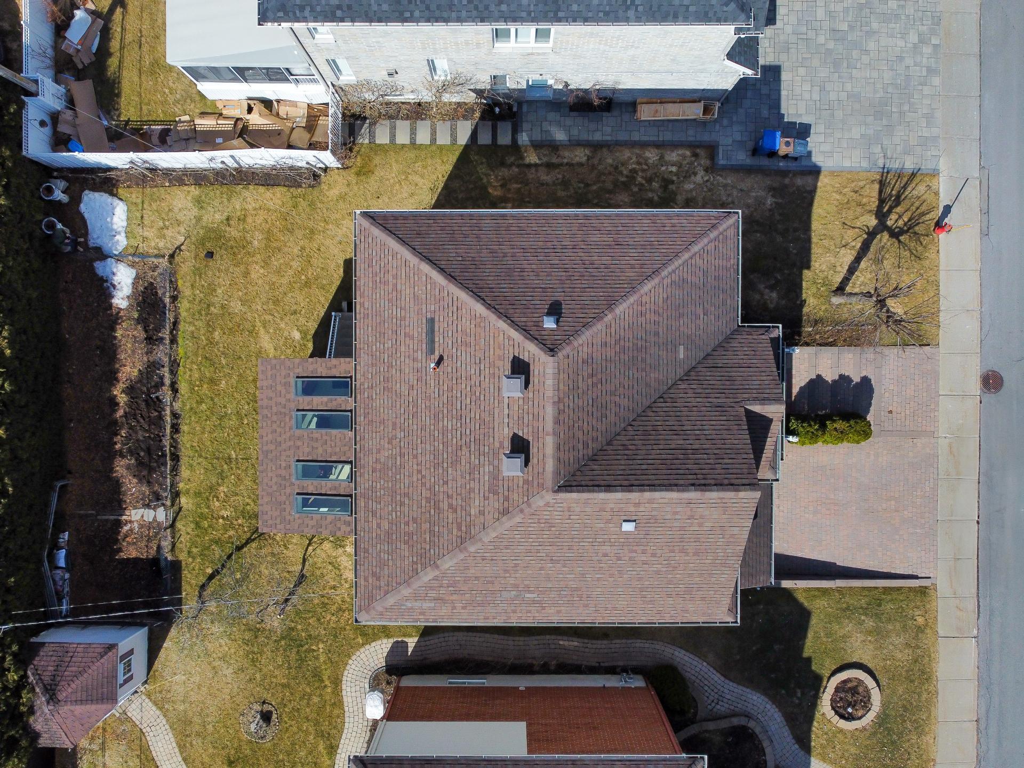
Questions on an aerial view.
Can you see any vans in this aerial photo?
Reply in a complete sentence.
No, the scene contains no van.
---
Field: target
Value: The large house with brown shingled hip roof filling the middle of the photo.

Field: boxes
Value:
[258,209,786,626]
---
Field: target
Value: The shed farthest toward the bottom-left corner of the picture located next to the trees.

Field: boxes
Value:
[21,625,146,749]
